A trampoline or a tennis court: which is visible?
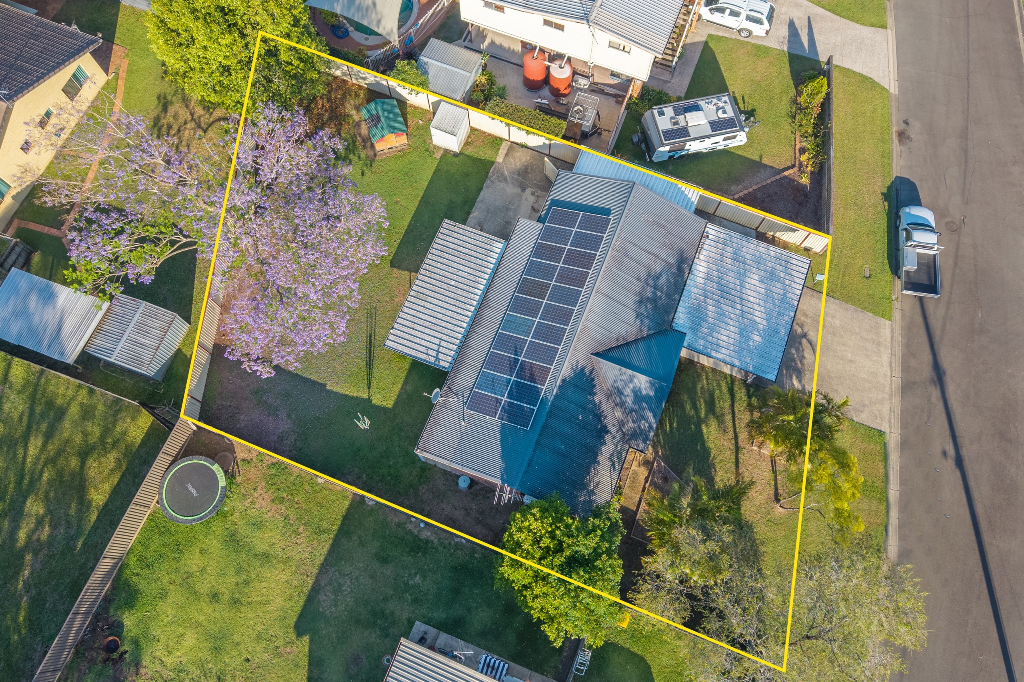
trampoline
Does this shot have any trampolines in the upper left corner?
No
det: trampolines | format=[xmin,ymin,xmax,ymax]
[158,456,229,524]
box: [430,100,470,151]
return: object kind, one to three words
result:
shed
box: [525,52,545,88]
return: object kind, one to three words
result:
water tank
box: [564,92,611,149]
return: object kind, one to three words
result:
trailer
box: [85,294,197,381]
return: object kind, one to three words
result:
shed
